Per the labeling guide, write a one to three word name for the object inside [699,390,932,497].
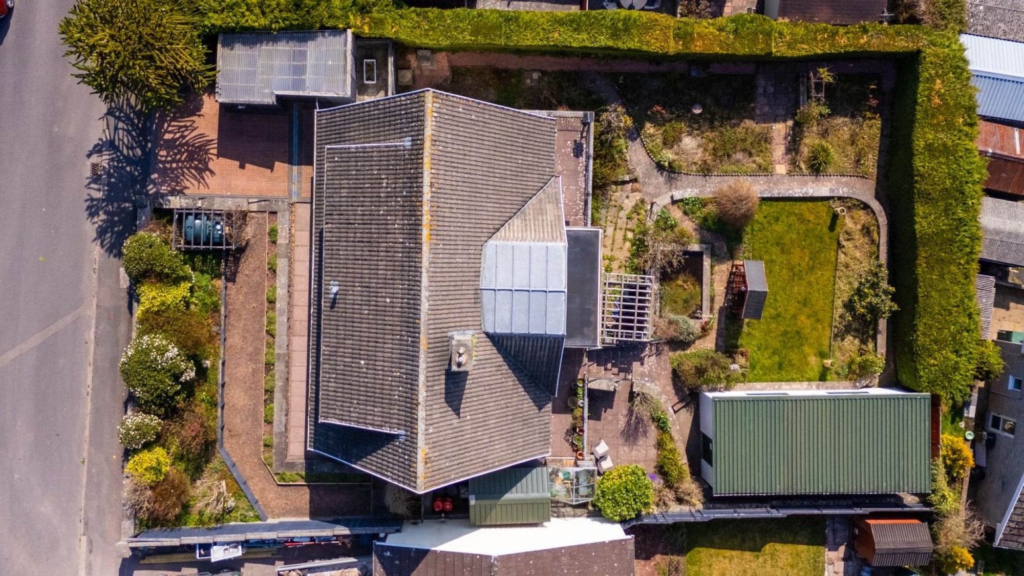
building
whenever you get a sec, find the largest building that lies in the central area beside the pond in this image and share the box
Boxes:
[306,87,604,495]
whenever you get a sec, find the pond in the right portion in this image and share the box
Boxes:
[653,244,711,350]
